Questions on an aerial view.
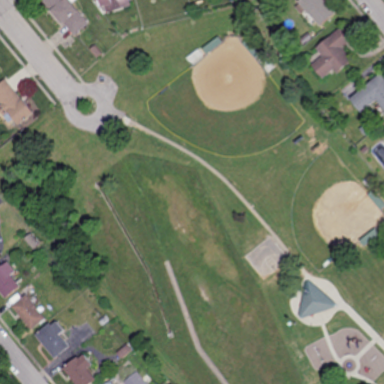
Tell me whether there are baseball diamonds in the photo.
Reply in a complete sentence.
Yes, this view includes a baseball diamond.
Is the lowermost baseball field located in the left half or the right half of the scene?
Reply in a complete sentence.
The lowermost baseball field appears in the right half of the scene.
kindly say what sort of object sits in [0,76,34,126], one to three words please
house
